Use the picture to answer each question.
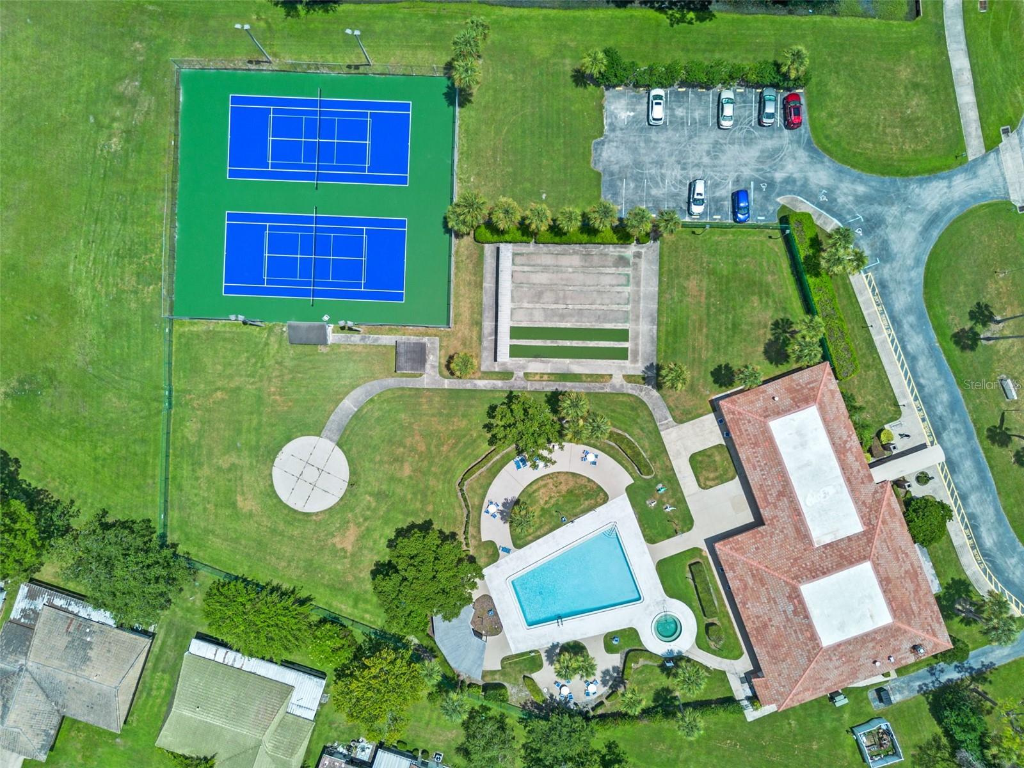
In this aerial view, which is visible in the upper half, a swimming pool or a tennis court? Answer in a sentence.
Looking in the upper half, you will find a tennis court.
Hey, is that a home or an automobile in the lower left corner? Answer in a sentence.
There is a home in the lower left corner.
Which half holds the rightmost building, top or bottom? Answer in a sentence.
It is in the bottom half that the rightmost building appears.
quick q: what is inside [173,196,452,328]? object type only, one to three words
tennis court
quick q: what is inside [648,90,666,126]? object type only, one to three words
car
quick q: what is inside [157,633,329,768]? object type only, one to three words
house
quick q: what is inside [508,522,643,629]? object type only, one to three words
swimming pool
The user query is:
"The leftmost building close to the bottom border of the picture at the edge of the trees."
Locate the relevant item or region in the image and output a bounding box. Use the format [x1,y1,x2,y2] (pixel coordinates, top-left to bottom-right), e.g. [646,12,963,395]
[0,579,161,763]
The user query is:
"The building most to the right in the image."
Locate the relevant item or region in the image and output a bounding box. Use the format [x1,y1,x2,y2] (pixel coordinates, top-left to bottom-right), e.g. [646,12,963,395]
[714,362,954,712]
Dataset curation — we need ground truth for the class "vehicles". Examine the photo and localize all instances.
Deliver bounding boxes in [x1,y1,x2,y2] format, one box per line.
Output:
[717,91,736,130]
[783,93,803,131]
[648,90,666,126]
[758,89,777,128]
[688,179,706,216]
[732,188,751,222]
